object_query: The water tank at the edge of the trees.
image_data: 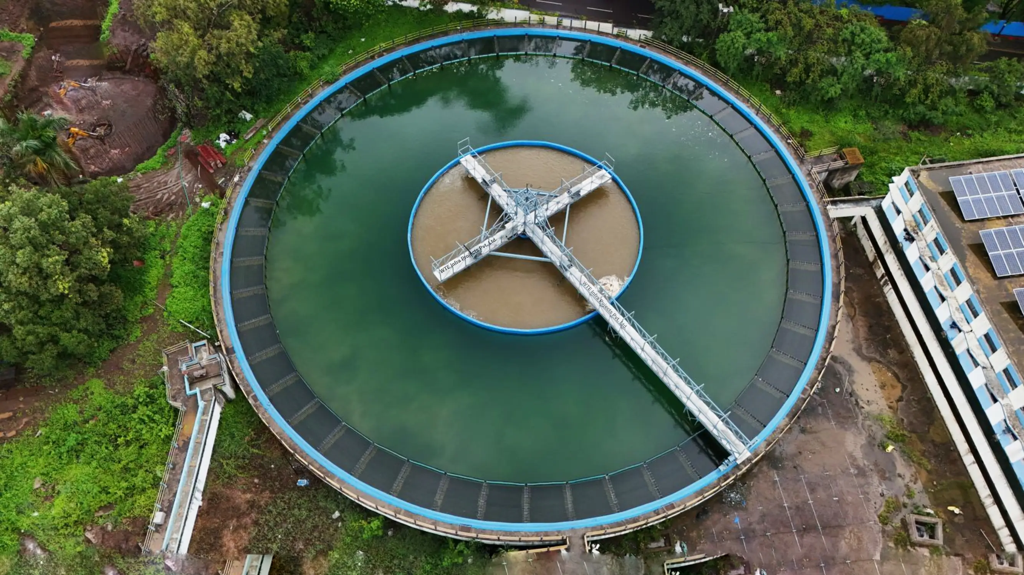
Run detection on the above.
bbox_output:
[210,23,844,553]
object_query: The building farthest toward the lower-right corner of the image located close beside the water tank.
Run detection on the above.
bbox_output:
[884,152,1024,484]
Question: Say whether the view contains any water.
Yes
